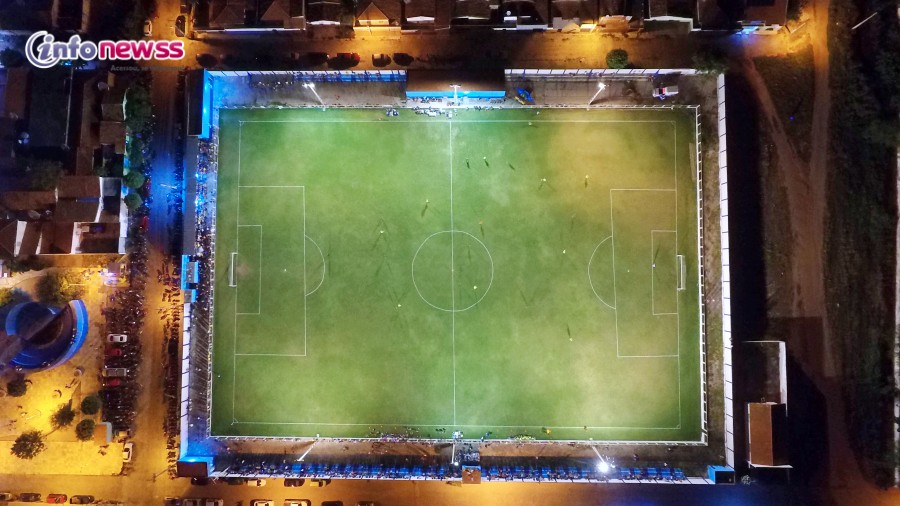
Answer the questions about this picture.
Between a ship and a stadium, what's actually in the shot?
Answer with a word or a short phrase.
stadium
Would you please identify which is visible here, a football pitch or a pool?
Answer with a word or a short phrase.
football pitch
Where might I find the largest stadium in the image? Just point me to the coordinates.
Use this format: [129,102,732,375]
[178,68,737,485]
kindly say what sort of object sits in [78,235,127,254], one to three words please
house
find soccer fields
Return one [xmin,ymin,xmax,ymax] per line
[211,107,702,442]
